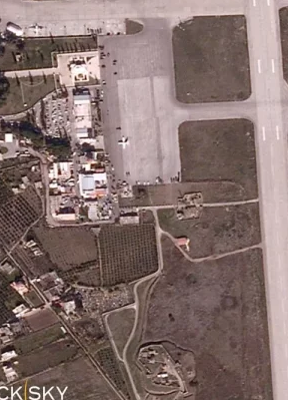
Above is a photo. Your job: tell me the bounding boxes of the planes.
[118,137,129,149]
[29,24,43,35]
